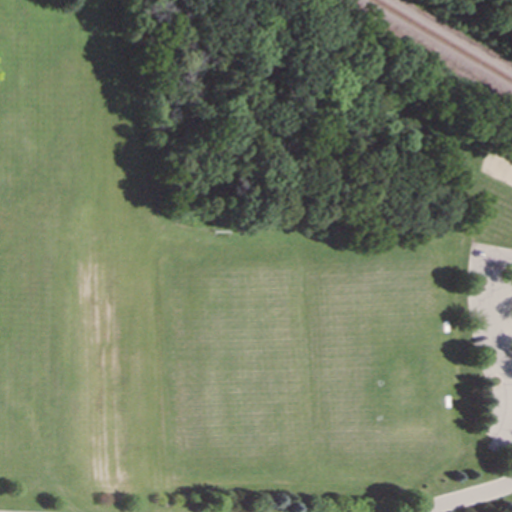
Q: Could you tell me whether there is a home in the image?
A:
No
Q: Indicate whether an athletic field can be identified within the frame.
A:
Yes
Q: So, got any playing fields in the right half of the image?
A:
Yes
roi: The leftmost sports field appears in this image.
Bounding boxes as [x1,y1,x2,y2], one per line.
[168,250,299,464]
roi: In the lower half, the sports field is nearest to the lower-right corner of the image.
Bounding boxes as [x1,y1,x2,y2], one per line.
[317,250,446,464]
